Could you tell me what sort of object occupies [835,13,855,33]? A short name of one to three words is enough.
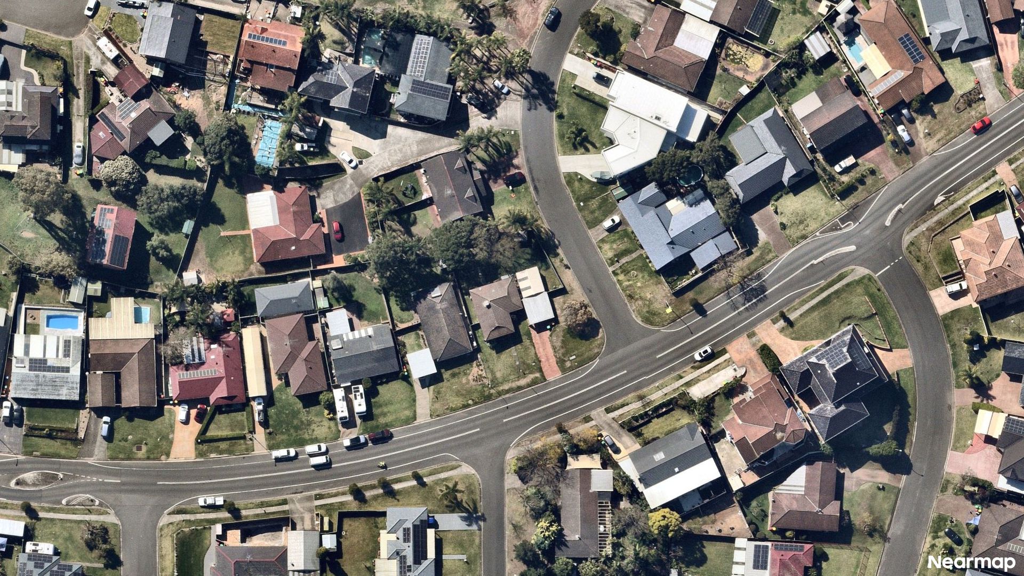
gazebo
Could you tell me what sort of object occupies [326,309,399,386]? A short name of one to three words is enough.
house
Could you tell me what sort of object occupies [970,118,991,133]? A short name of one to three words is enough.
car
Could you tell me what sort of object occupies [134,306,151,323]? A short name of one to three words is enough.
swimming pool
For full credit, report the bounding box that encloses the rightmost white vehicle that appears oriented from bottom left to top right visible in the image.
[833,155,857,173]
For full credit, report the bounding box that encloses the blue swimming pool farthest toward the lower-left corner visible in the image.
[45,314,79,329]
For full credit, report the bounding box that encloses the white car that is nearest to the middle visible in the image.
[602,216,622,230]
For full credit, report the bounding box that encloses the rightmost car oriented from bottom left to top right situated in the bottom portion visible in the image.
[694,345,715,361]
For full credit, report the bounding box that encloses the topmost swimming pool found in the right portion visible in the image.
[845,40,864,63]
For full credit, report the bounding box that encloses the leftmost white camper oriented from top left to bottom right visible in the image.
[96,36,119,60]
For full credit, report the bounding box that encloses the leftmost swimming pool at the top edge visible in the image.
[362,28,384,66]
